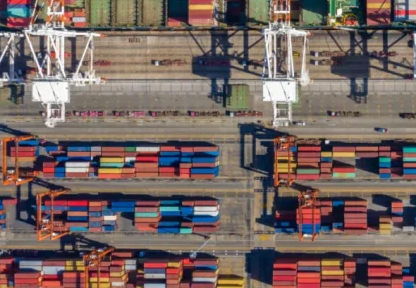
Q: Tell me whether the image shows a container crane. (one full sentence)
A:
Yes, looking at the shot, I can spot a container crane.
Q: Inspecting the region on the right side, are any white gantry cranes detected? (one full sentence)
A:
Yes, you'll find a white gantry crane on the right side.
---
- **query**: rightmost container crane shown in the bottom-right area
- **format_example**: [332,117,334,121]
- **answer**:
[295,187,322,239]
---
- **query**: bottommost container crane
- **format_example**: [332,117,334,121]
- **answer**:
[82,242,116,288]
